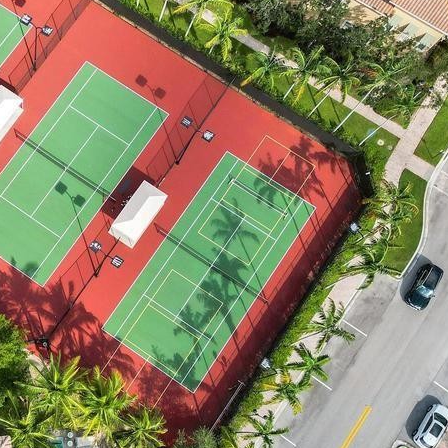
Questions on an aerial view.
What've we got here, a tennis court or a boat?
tennis court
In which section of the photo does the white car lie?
bottom right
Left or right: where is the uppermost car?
right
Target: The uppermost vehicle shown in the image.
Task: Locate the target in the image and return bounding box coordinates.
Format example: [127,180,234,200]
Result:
[403,263,446,308]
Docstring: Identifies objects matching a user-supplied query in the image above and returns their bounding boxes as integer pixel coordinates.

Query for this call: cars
[412,405,448,448]
[403,263,446,308]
